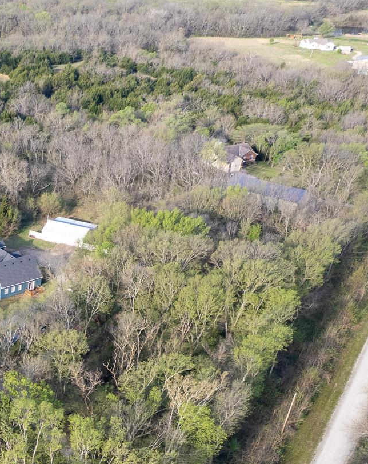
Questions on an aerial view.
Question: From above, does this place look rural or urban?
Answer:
rural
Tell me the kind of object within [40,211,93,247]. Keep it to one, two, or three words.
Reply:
barn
